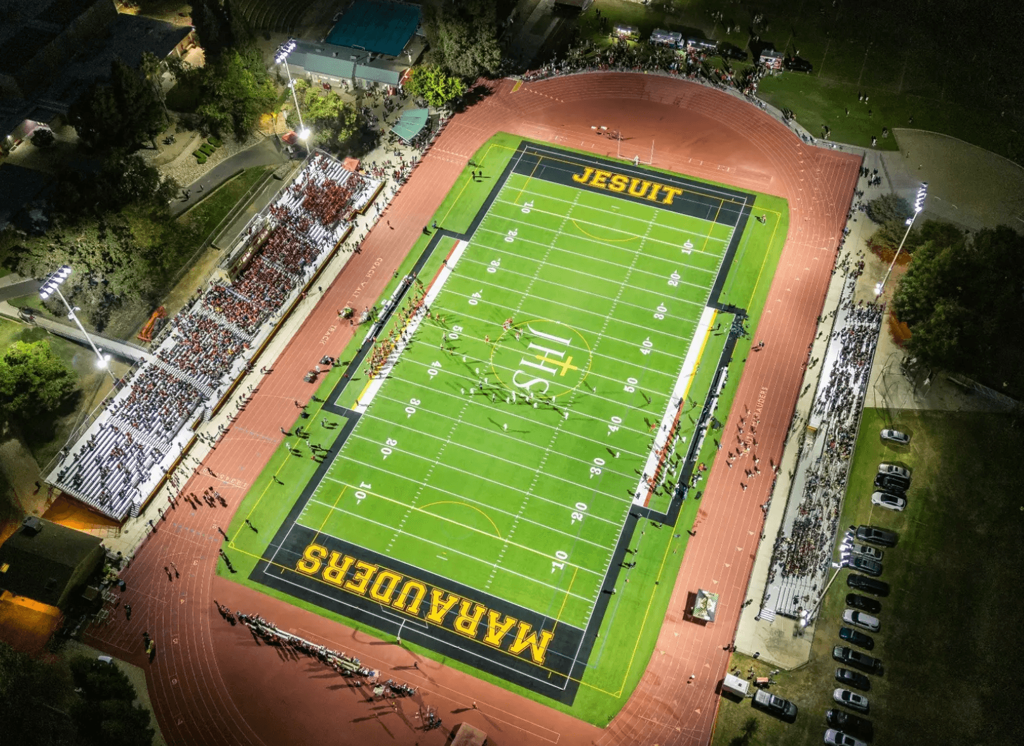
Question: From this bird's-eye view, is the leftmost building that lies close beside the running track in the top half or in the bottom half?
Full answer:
The leftmost building that lies close beside the running track is in the bottom half of the image.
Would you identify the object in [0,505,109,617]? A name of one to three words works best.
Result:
building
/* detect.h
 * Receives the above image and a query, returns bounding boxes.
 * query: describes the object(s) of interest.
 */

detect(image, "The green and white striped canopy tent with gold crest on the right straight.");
[689,589,720,629]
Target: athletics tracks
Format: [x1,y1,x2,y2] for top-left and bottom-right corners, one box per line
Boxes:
[75,74,865,746]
